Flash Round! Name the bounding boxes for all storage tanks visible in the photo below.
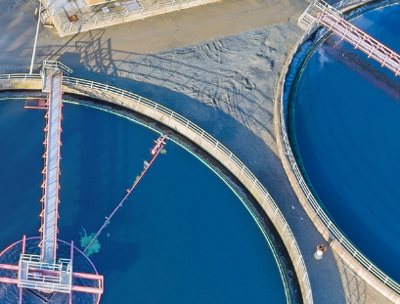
[0,56,314,304]
[274,0,400,304]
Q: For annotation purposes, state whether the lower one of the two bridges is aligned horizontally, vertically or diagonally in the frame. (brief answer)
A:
vertically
